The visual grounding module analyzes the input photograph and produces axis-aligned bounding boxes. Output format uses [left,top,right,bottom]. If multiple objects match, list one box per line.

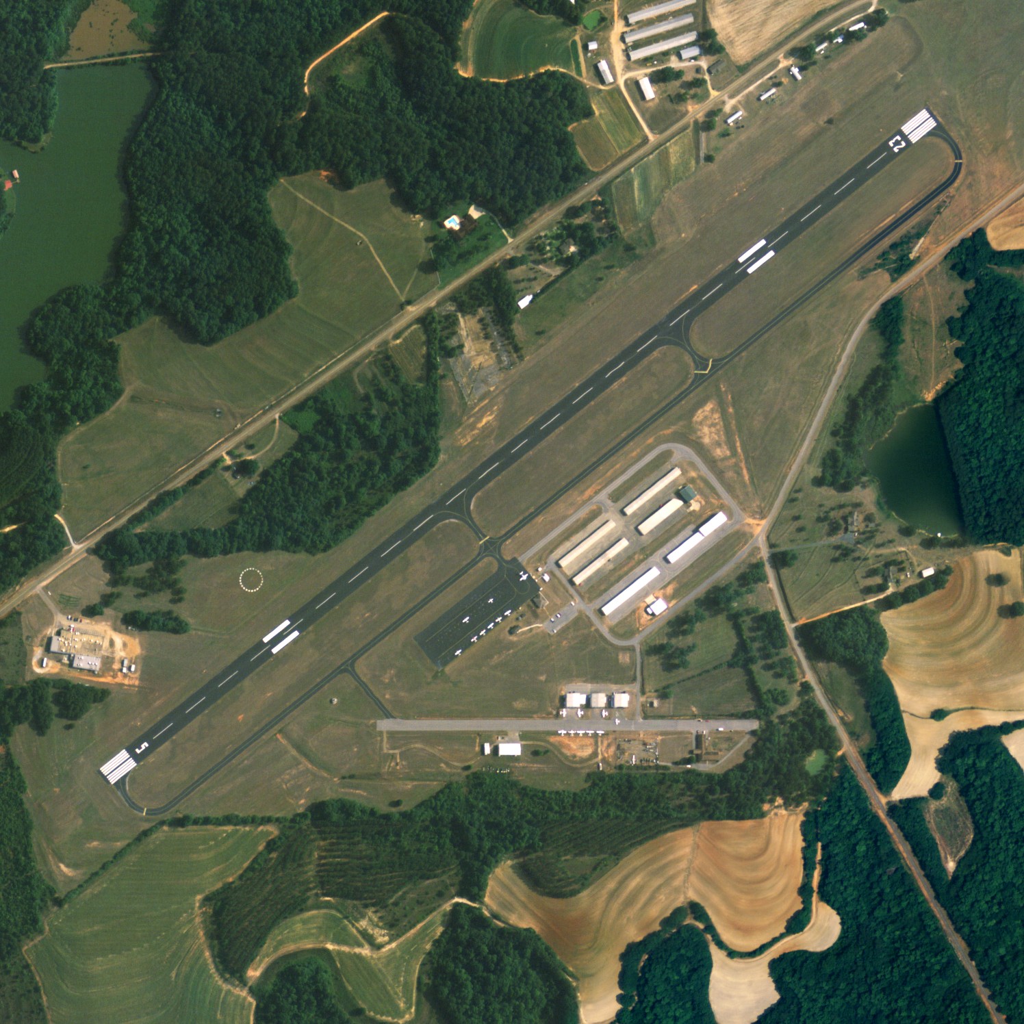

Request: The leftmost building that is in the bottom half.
[49,630,104,673]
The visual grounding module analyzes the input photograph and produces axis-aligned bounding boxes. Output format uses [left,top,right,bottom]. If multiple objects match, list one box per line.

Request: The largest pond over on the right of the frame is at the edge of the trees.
[862,400,972,536]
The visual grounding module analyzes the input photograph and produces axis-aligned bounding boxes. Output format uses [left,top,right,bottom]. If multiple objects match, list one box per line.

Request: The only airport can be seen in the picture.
[97,107,963,816]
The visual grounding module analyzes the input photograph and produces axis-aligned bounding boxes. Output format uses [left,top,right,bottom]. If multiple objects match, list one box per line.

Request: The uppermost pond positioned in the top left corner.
[61,0,151,59]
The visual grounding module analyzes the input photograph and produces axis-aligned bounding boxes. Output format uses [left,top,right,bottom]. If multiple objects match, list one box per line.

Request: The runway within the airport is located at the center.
[97,107,940,787]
